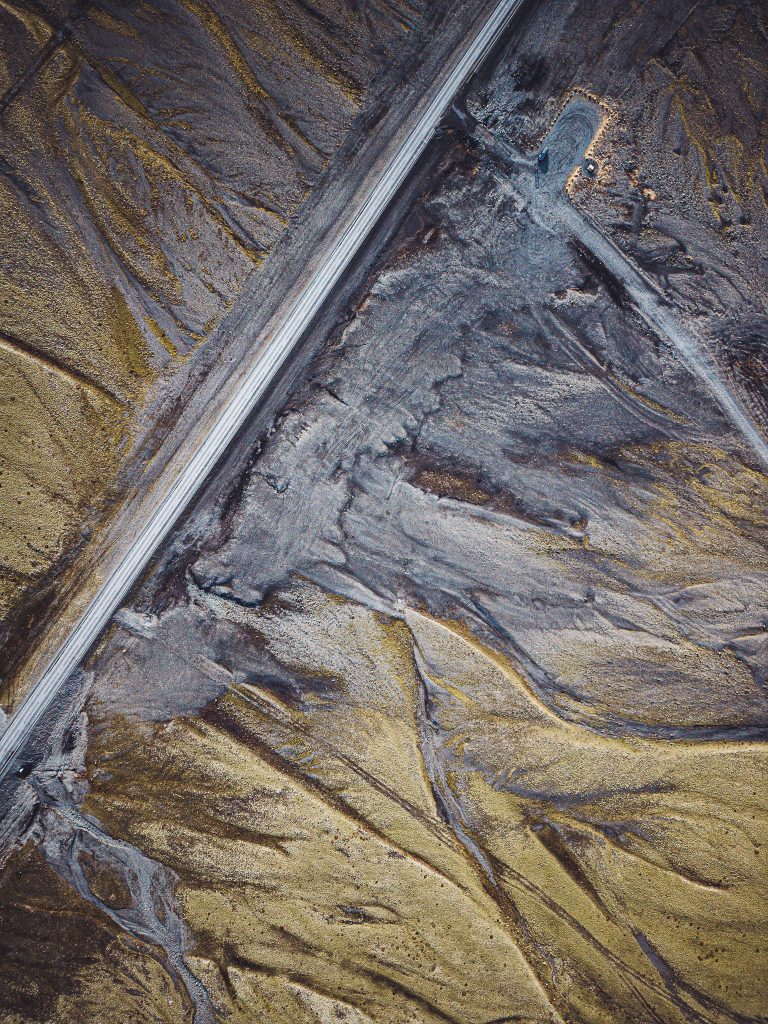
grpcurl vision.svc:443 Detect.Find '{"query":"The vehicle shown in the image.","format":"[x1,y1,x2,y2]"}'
[536,146,549,161]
